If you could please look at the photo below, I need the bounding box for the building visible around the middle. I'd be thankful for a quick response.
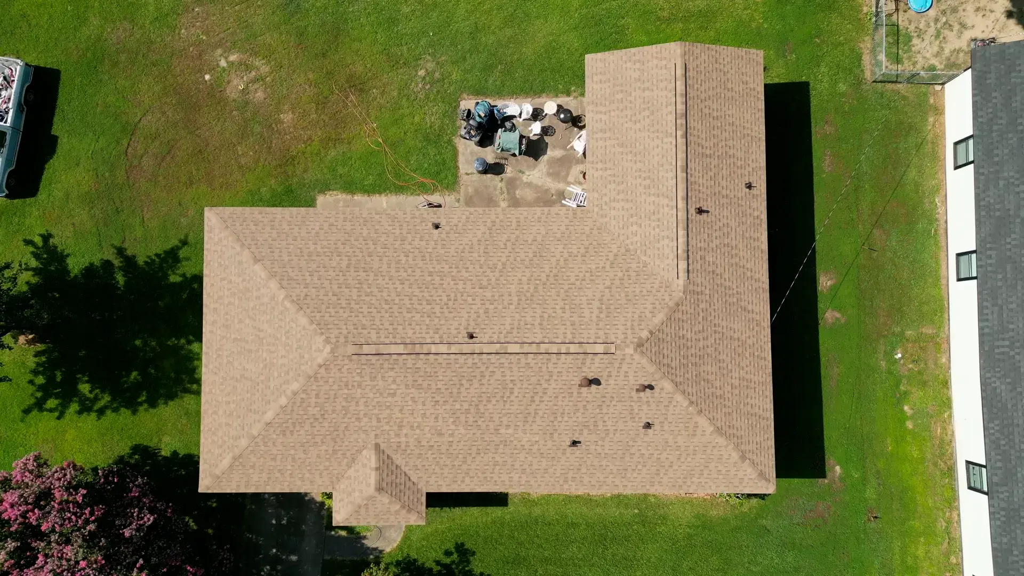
[197,40,777,527]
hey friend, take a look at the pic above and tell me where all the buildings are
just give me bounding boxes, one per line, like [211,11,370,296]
[943,42,1024,576]
[197,40,777,527]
